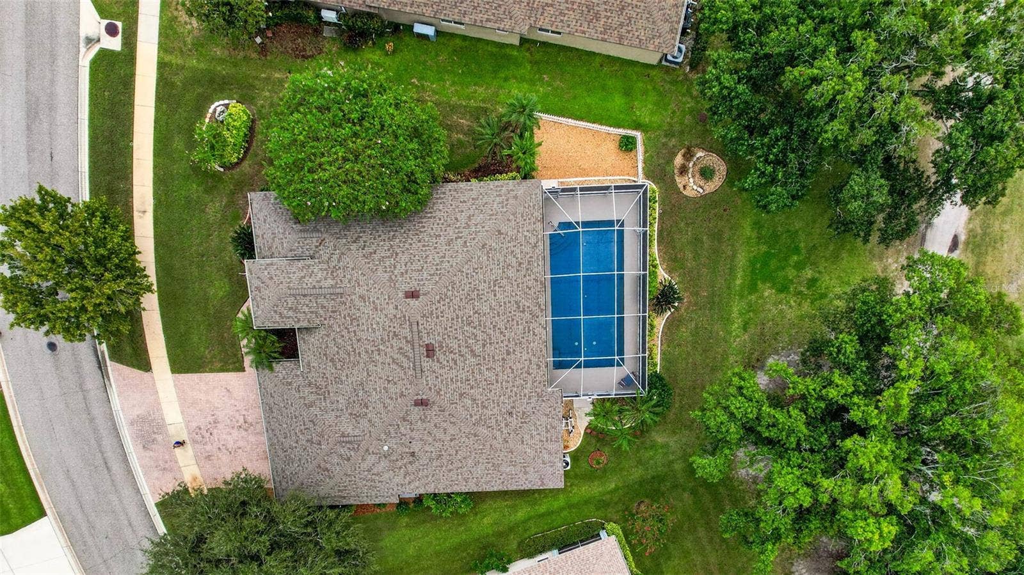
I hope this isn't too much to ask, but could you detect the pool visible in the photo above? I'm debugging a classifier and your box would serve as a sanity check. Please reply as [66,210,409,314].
[547,215,629,373]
